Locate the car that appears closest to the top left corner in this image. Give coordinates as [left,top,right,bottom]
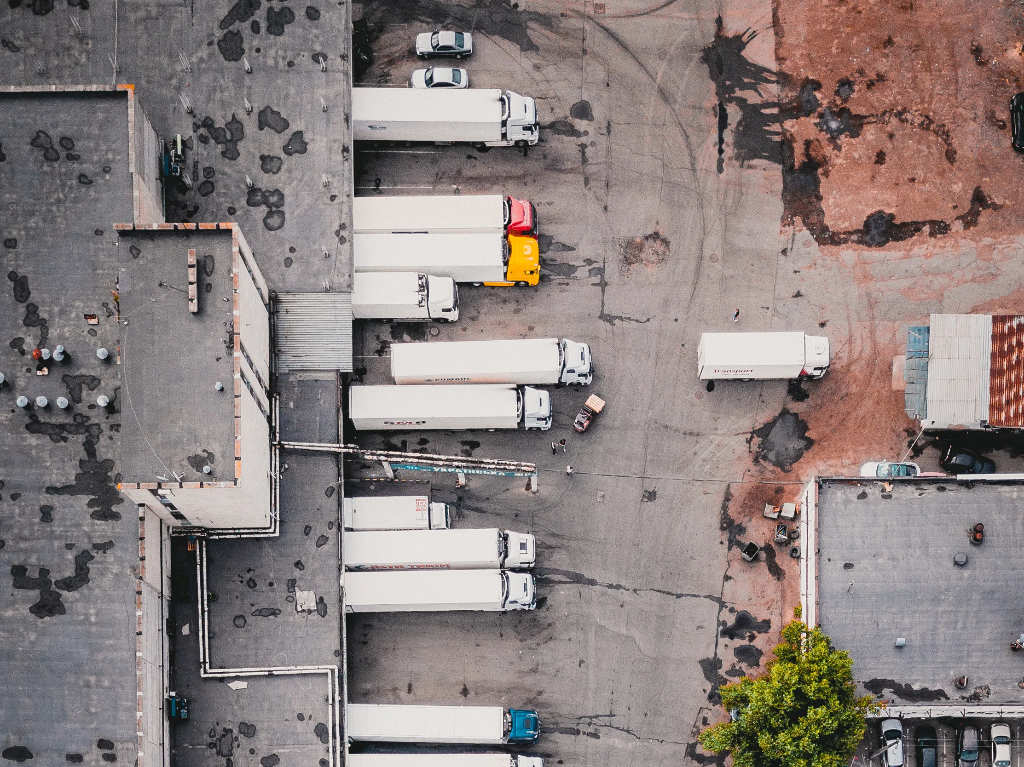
[352,15,378,73]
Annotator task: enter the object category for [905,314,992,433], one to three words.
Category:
shed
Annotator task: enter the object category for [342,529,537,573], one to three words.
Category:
truck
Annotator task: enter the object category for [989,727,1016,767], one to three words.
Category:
car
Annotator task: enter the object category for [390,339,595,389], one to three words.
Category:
truck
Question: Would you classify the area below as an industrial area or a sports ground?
industrial area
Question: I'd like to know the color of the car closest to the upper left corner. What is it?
black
